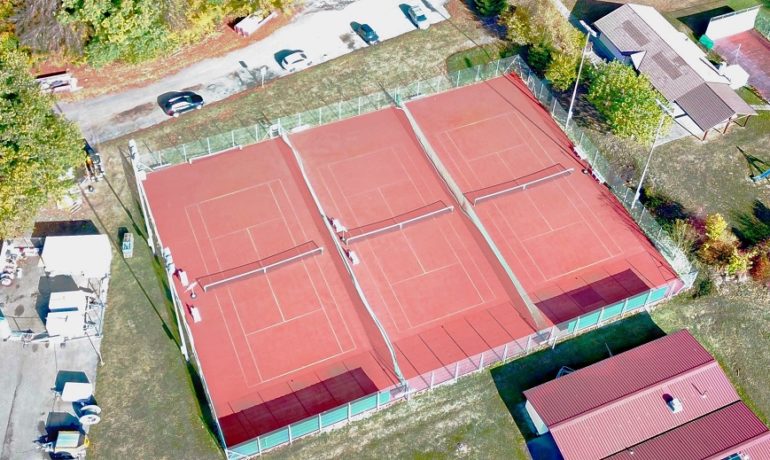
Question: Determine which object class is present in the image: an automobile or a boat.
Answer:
automobile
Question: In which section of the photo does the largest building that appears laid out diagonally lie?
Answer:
top right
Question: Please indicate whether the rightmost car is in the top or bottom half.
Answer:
top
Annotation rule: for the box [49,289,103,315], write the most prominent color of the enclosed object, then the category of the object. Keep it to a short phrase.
white trailer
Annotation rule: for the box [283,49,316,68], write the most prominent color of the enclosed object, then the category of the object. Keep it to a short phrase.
white car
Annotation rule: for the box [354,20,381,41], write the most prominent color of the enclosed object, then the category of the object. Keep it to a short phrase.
blue car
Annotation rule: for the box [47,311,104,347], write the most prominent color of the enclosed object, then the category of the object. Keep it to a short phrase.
white trailer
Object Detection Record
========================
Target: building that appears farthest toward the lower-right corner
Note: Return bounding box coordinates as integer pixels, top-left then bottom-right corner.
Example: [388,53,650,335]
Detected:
[523,325,770,460]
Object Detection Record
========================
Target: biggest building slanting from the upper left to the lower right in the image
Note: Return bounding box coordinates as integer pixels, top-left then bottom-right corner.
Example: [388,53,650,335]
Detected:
[591,3,759,143]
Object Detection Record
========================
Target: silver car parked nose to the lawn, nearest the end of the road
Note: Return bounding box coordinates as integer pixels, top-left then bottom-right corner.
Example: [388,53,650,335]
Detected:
[405,4,432,27]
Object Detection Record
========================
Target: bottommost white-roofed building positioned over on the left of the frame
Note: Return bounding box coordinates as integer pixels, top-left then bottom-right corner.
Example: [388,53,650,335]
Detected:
[41,235,113,280]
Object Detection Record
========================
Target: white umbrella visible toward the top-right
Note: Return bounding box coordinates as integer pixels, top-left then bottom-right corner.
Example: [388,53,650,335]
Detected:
[723,65,757,91]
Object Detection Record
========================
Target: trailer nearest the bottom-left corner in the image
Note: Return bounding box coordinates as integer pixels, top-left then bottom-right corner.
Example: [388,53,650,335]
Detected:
[44,430,84,455]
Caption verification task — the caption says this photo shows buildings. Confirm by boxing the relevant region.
[41,235,113,280]
[591,3,759,143]
[523,325,770,460]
